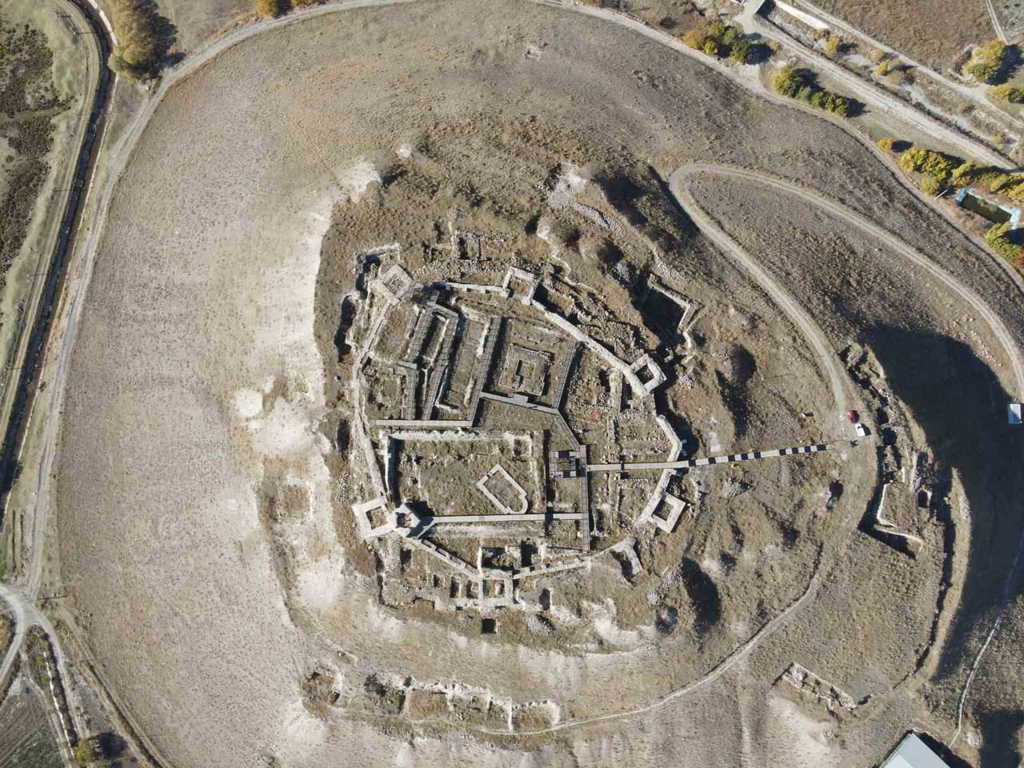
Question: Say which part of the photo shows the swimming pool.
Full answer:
You can find the swimming pool in the top right area of the picture.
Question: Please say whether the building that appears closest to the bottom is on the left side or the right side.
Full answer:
It is on the right.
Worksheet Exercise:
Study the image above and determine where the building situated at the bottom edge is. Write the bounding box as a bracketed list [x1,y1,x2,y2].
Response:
[877,731,952,768]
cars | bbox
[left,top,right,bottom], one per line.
[856,423,866,437]
[848,409,857,423]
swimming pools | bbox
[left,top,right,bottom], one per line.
[961,190,1013,226]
